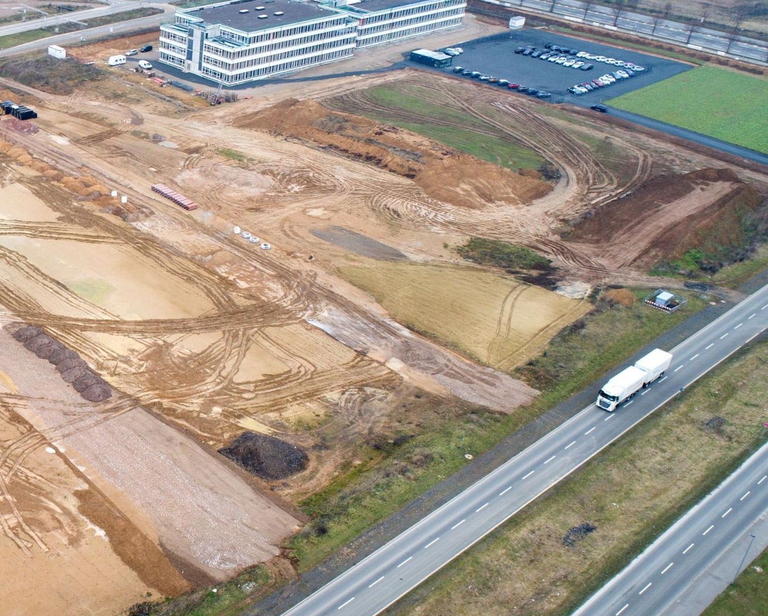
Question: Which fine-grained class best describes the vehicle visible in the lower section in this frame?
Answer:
truck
